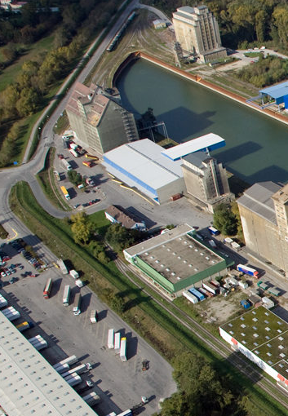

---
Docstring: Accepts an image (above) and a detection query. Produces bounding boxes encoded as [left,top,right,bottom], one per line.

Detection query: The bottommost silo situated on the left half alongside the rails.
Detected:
[69,86,143,153]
